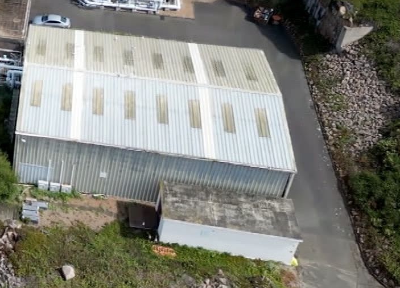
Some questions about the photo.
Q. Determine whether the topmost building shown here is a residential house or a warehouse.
warehouse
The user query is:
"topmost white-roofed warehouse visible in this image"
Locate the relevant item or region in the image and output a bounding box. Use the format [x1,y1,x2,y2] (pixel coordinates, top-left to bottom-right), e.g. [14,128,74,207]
[6,25,299,206]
